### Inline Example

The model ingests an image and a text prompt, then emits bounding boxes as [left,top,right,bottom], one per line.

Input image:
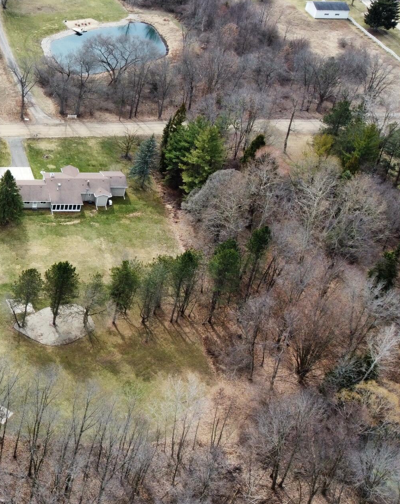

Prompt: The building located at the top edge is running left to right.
[308,0,352,19]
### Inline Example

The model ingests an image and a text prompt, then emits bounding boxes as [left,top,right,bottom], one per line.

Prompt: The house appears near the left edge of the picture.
[2,164,128,214]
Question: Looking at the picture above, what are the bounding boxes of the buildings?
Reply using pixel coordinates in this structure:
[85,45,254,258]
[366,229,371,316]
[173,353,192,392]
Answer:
[308,0,352,19]
[2,164,128,214]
